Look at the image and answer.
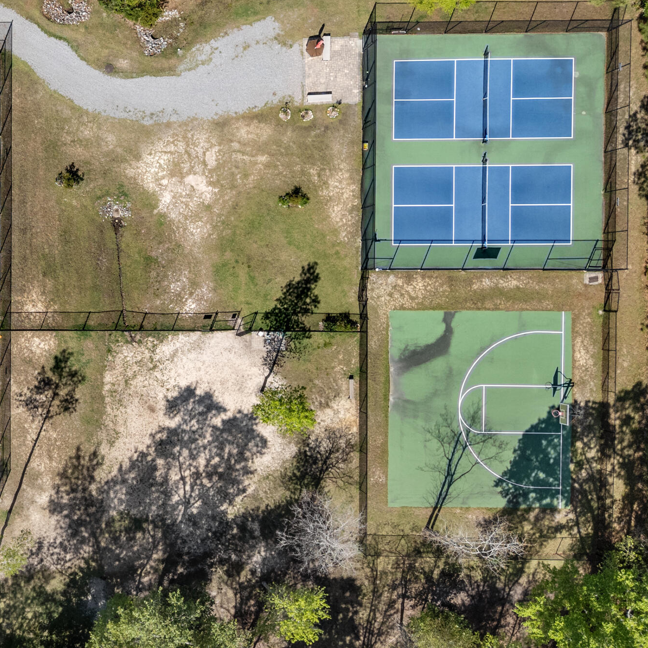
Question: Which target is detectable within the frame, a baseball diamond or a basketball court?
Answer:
basketball court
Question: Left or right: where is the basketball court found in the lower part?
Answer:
right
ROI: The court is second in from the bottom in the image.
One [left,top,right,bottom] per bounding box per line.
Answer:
[361,152,605,268]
